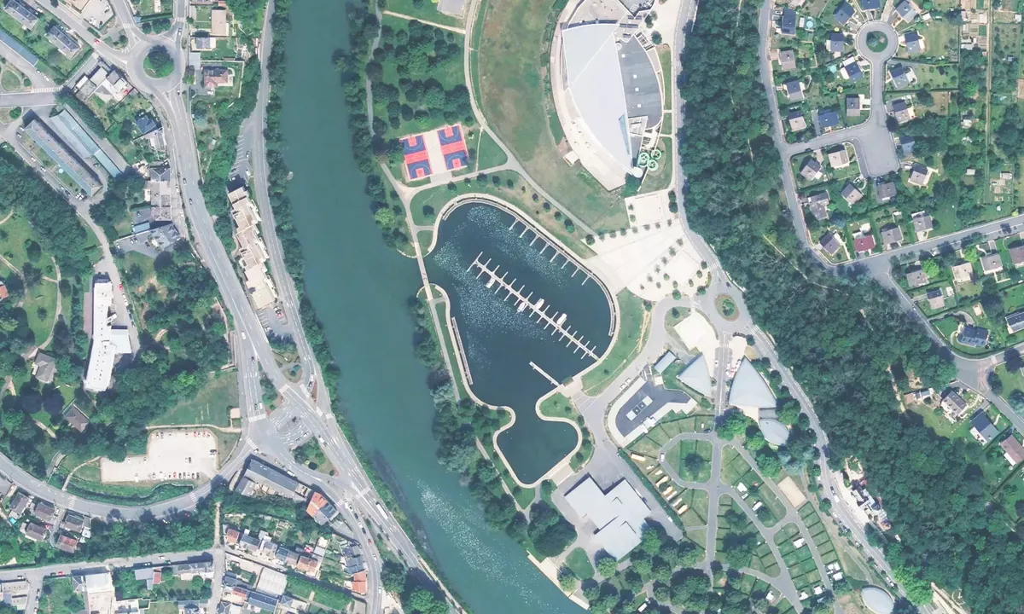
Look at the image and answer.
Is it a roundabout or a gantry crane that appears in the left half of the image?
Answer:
roundabout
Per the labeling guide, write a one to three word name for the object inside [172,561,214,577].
house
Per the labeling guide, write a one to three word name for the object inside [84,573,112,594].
building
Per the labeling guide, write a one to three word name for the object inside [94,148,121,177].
shed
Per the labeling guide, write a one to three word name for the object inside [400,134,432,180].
basketball court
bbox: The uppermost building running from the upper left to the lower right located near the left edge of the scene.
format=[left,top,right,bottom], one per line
[1,0,38,29]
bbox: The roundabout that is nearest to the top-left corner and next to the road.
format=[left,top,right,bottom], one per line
[131,32,187,89]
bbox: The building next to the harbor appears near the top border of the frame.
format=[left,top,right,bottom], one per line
[551,0,663,191]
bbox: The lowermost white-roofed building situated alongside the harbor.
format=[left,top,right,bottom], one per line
[565,477,651,561]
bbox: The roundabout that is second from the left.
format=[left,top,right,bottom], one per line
[704,286,748,330]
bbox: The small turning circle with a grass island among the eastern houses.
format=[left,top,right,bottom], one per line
[854,18,900,64]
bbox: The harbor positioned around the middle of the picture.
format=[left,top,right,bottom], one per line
[424,194,621,490]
